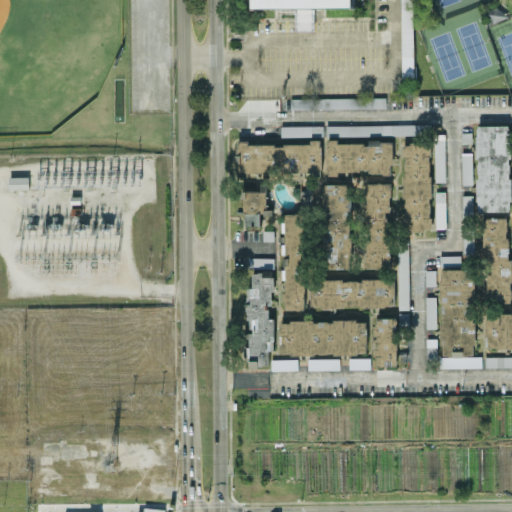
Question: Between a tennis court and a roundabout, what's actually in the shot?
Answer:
tennis court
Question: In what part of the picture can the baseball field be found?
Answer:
top left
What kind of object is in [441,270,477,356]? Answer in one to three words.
building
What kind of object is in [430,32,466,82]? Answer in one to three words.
tennis court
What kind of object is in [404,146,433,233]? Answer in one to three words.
building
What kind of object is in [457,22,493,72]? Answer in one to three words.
tennis court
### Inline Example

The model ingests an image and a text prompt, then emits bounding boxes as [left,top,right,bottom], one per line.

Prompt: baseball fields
[0,0,123,136]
